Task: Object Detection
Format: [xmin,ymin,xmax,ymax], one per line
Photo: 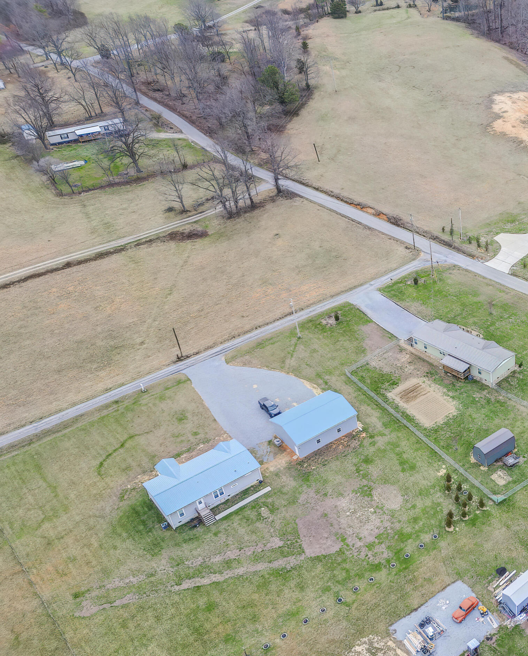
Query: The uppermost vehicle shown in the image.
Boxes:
[258,397,281,417]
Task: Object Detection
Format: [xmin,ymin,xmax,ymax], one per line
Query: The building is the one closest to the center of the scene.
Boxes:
[269,391,363,458]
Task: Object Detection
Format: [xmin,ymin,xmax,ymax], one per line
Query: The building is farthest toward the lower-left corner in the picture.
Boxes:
[142,438,263,528]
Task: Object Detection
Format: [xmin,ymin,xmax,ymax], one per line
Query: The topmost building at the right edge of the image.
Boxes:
[408,319,516,386]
